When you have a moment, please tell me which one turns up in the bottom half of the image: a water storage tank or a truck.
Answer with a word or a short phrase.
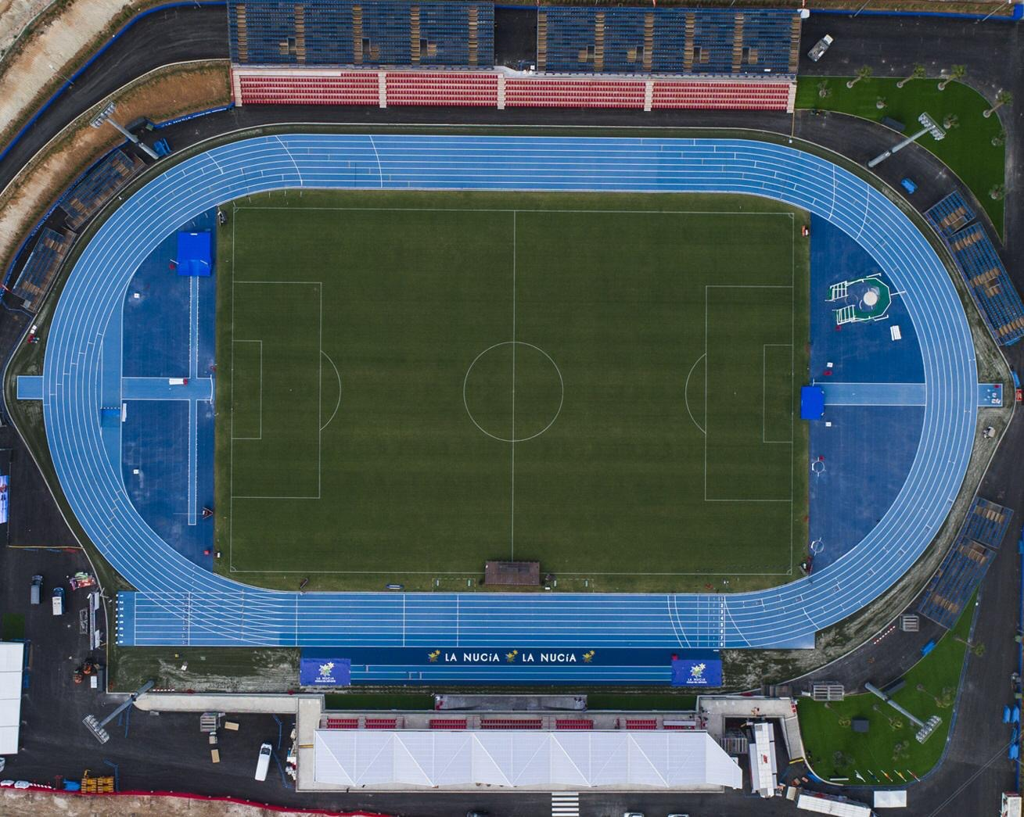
truck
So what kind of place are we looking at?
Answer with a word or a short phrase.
sports ground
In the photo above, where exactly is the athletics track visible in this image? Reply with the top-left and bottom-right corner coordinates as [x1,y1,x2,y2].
[17,134,1003,687]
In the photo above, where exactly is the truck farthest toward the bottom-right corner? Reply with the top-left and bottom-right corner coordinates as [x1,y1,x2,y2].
[995,788,1023,817]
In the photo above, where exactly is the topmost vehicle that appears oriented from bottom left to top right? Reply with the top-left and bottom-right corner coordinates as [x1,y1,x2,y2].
[808,34,833,62]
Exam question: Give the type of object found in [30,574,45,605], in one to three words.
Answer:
vehicle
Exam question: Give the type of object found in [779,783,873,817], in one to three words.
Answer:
truck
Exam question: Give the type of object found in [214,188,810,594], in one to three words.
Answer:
soccer field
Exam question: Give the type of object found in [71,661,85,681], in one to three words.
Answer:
work vehicle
